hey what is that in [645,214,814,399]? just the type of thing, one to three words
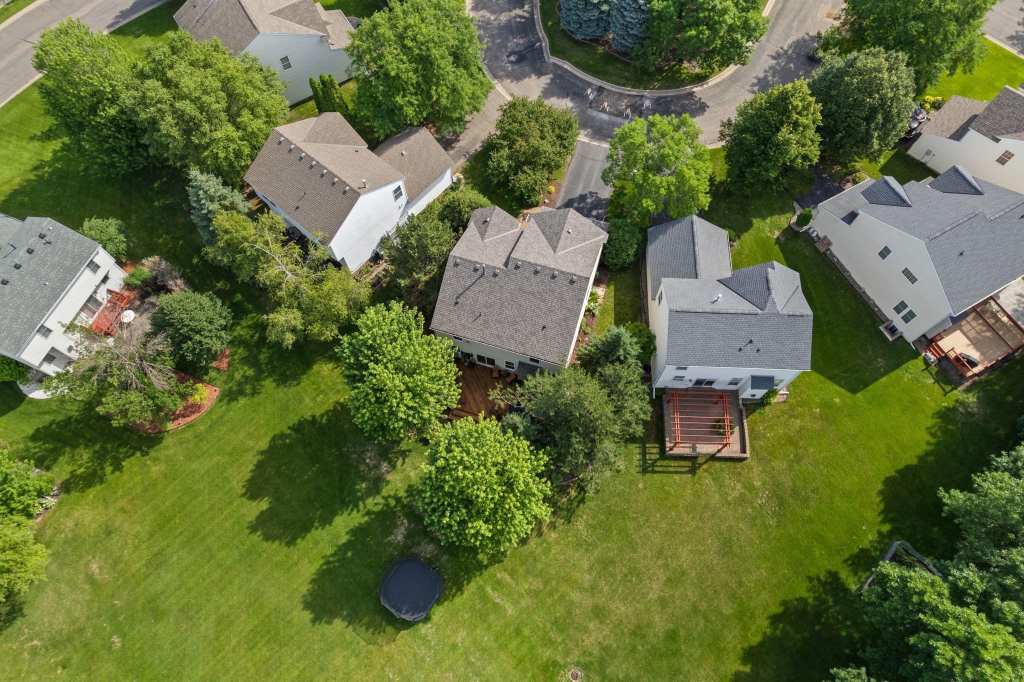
house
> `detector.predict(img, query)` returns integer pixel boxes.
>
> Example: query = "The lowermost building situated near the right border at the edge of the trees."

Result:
[803,159,1024,353]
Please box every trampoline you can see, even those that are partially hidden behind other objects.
[375,555,445,625]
